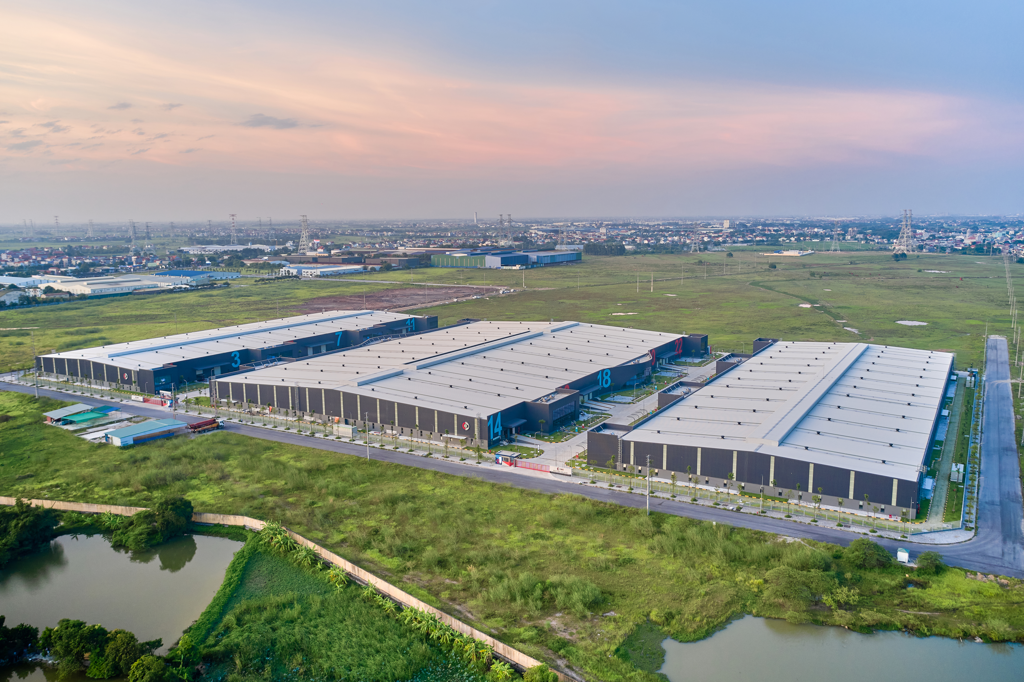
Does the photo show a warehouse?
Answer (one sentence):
Yes, a warehouse is visible in the scene.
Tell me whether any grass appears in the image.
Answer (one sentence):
Yes, grass can be seen from above here.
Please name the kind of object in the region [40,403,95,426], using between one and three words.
shed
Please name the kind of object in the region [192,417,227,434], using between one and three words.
vehicle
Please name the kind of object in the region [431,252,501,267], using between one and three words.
building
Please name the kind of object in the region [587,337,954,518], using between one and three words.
warehouse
